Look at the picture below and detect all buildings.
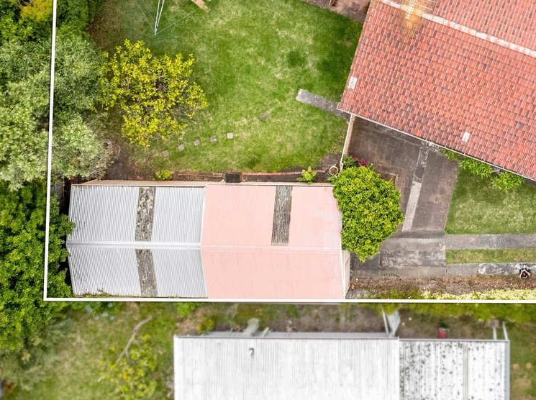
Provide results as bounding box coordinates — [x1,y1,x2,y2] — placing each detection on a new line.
[337,0,536,182]
[63,180,352,300]
[171,319,509,400]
